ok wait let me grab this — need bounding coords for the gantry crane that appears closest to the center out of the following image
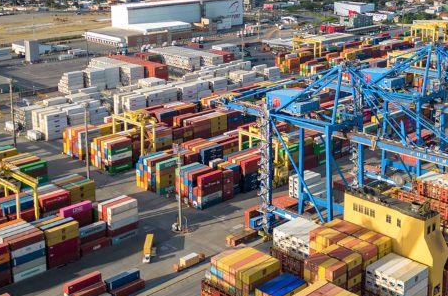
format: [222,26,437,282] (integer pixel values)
[226,123,284,169]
